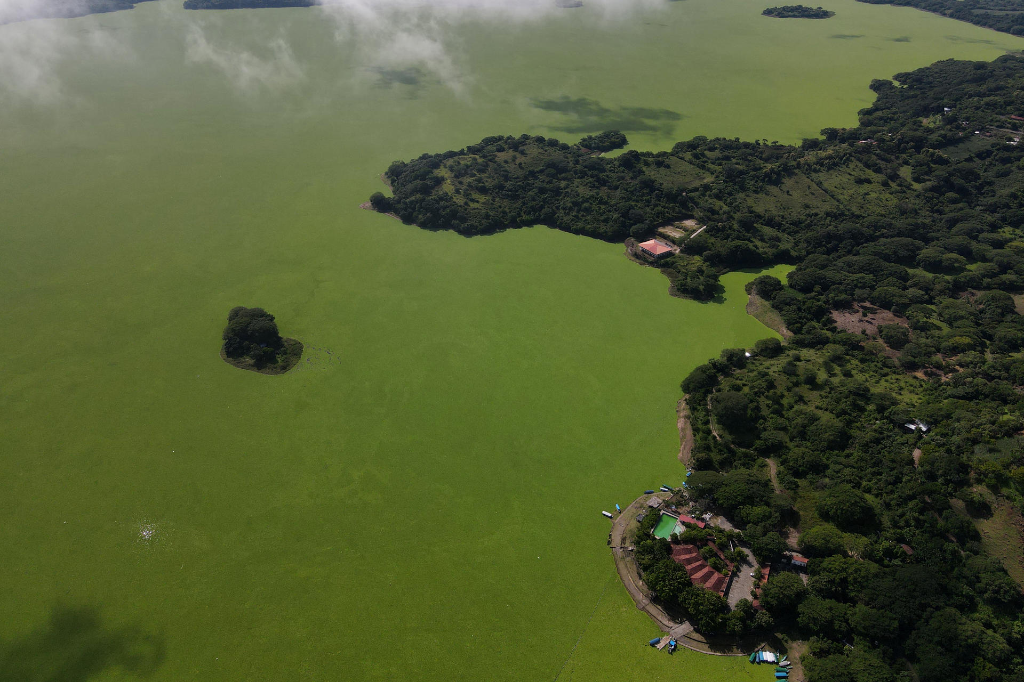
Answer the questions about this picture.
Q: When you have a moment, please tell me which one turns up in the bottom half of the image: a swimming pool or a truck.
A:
swimming pool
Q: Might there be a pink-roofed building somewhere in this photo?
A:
Yes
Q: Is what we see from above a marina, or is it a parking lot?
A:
marina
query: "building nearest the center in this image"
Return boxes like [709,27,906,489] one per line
[639,239,671,259]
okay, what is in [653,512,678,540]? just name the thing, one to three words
swimming pool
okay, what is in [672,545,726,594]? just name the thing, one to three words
building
